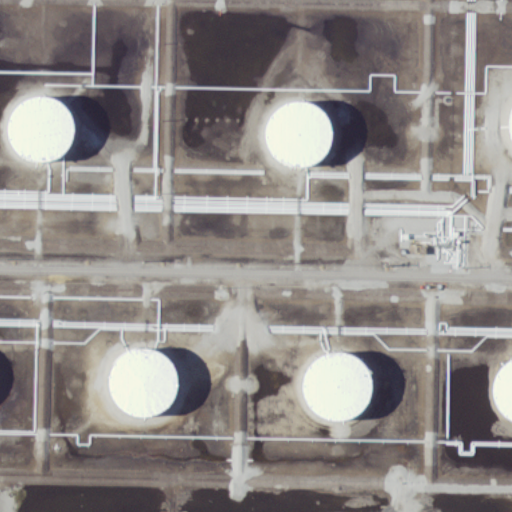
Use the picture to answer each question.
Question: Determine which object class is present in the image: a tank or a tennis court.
tank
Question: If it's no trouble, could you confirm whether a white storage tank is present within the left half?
Yes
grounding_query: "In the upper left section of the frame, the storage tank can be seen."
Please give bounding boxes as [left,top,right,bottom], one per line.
[7,94,77,164]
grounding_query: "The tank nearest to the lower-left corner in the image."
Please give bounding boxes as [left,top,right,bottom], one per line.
[107,347,180,419]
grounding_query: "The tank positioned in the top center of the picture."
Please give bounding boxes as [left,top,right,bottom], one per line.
[264,99,334,169]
